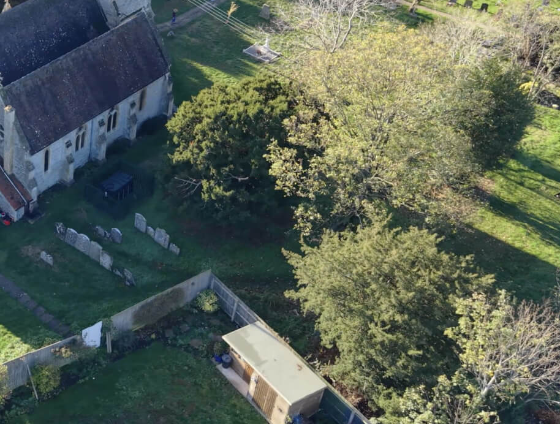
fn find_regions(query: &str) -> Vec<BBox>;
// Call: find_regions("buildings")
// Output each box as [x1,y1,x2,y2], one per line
[0,0,176,222]
[221,318,332,424]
